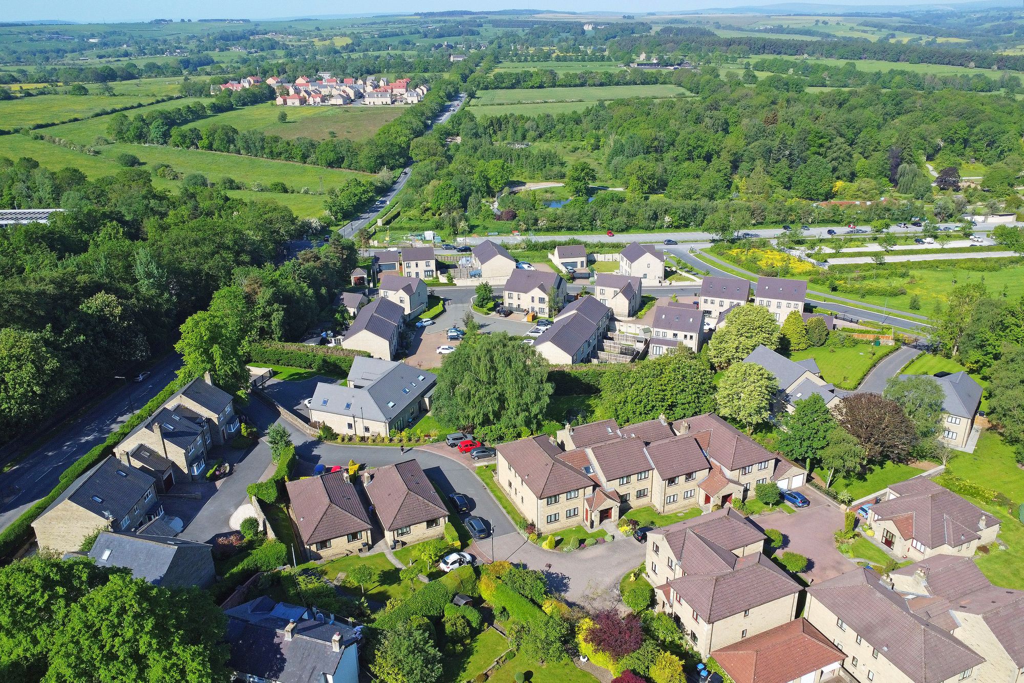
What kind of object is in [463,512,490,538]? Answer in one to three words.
car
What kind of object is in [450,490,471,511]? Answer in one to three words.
car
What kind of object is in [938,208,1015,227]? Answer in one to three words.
building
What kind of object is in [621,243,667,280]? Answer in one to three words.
house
